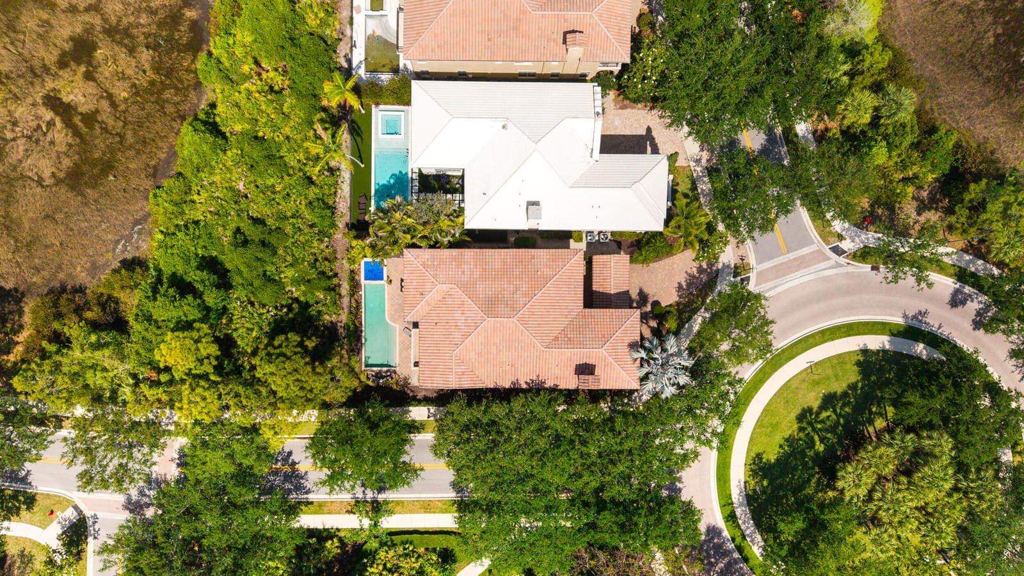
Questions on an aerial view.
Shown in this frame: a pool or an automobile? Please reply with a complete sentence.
I can see a pool in this picture.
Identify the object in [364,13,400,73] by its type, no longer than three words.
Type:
swimming pool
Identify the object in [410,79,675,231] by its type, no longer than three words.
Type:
house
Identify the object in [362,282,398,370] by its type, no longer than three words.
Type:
swimming pool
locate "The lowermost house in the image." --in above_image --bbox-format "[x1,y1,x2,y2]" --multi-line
[402,248,641,391]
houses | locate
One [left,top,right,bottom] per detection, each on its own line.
[410,79,675,231]
[402,248,641,391]
[403,0,632,79]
